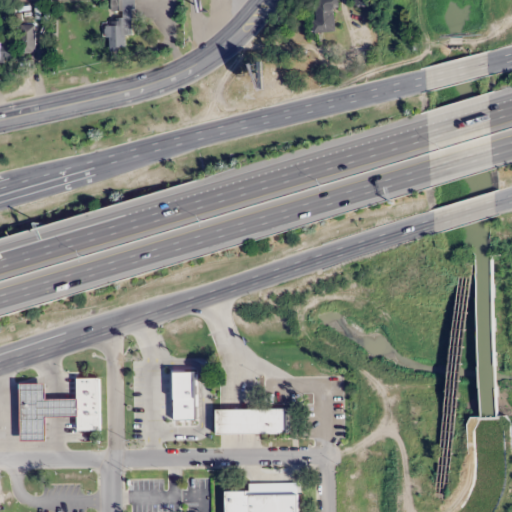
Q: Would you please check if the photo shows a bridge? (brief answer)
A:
Yes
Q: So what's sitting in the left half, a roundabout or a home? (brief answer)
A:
home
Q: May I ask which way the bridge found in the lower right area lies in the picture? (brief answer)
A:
up and down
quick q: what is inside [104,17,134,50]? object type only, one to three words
house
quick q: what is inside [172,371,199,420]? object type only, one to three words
building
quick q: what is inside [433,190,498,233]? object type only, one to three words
bridge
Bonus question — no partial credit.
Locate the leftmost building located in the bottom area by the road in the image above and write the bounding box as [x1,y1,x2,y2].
[76,377,102,431]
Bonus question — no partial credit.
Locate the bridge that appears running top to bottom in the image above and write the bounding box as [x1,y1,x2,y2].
[434,264,474,499]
